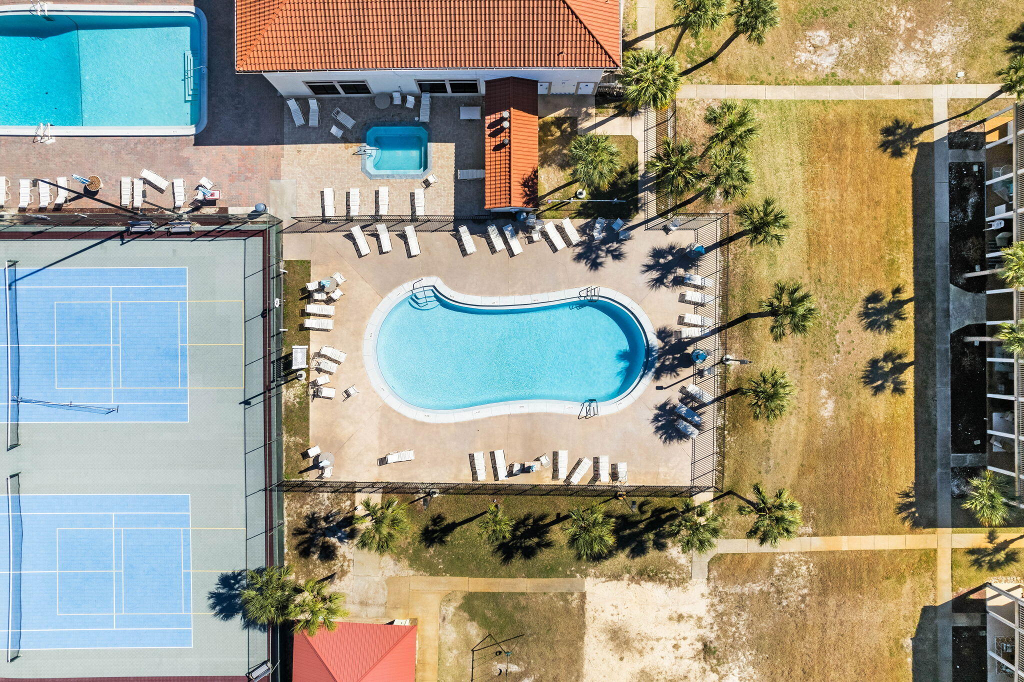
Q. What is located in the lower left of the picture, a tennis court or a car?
tennis court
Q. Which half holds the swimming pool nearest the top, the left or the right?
left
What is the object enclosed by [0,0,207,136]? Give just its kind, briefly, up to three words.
swimming pool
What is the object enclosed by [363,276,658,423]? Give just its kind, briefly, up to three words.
swimming pool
